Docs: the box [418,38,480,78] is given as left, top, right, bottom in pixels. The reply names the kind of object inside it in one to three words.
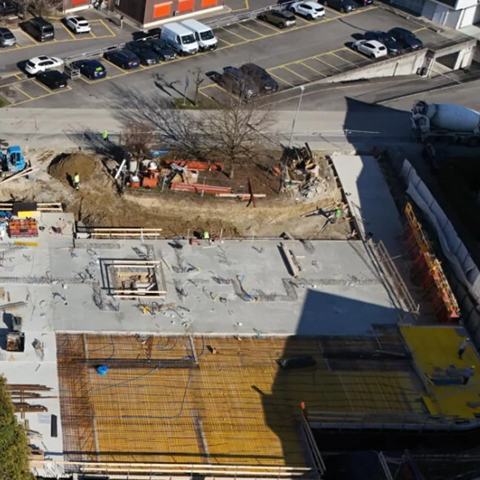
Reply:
building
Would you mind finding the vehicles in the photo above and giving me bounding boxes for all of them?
[391,26,424,47]
[23,54,63,75]
[66,15,91,33]
[23,17,54,40]
[75,59,106,80]
[129,40,160,63]
[294,1,324,18]
[184,15,220,46]
[372,30,405,52]
[242,63,277,89]
[0,29,18,47]
[106,49,138,69]
[398,102,480,146]
[161,18,198,50]
[37,68,67,90]
[149,36,180,58]
[0,0,17,16]
[0,143,32,173]
[263,8,293,27]
[355,39,389,57]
